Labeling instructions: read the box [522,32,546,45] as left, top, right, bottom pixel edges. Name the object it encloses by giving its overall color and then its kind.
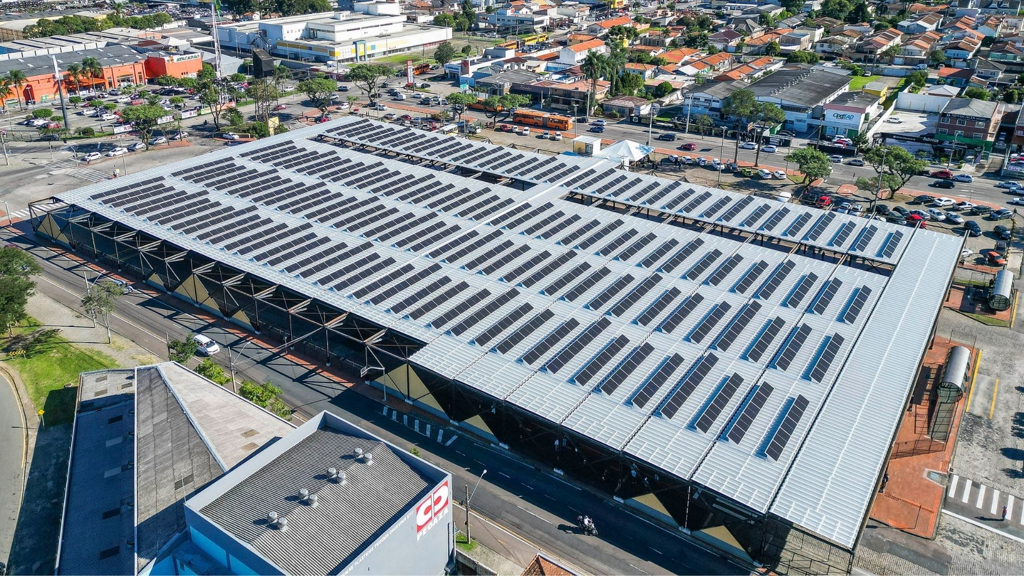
yellow vehicle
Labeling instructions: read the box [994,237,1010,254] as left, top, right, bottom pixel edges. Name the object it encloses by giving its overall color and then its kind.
black vehicle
